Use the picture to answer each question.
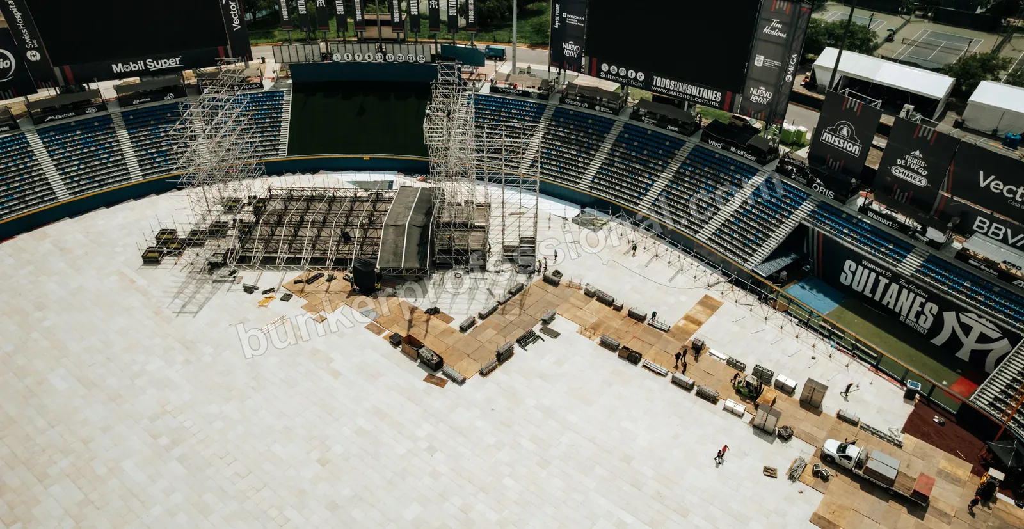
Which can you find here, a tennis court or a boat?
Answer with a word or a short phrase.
tennis court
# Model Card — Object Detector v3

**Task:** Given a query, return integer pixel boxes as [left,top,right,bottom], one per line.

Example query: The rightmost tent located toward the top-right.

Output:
[965,80,1024,142]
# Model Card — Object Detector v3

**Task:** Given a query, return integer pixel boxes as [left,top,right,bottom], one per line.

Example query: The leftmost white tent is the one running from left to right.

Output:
[808,44,963,119]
